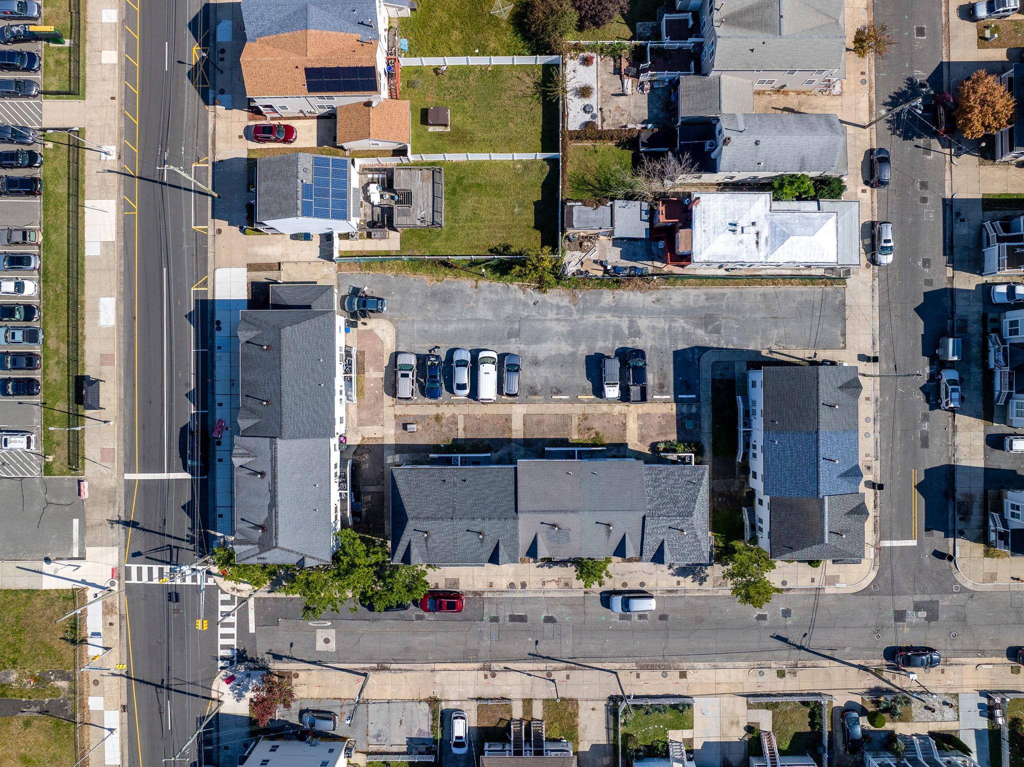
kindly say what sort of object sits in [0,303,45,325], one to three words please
car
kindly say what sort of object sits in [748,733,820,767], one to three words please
house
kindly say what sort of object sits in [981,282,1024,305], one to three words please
truck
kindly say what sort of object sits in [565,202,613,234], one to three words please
shed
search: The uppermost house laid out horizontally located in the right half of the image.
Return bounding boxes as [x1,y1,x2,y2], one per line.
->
[636,0,848,95]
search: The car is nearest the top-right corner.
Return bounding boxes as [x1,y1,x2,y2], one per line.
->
[969,0,1019,23]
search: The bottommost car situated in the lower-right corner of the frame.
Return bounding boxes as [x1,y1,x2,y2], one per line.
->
[839,707,864,754]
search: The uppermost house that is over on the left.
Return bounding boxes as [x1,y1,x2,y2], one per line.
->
[238,0,412,121]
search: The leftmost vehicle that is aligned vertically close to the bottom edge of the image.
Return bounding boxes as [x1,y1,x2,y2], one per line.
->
[448,705,471,755]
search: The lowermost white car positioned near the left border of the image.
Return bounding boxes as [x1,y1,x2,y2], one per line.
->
[0,431,41,453]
